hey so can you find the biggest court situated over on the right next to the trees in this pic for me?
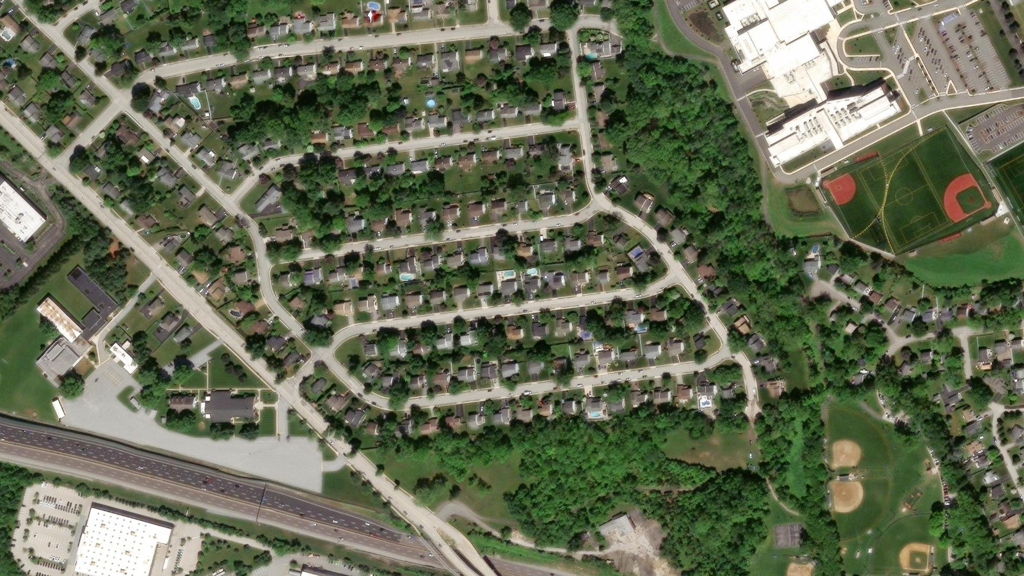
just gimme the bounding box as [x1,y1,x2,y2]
[775,525,803,548]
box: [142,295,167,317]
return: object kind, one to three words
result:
house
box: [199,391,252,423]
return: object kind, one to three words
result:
building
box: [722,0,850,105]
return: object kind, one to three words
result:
building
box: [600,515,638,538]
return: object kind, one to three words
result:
shed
